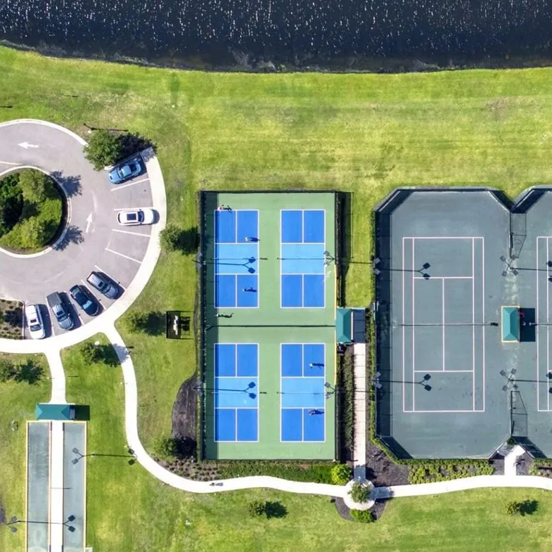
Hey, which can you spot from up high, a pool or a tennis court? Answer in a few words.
tennis court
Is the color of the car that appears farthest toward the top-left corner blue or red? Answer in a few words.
blue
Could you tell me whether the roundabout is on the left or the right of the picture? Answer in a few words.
left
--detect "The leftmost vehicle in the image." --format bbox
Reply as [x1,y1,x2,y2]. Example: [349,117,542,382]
[22,303,44,341]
